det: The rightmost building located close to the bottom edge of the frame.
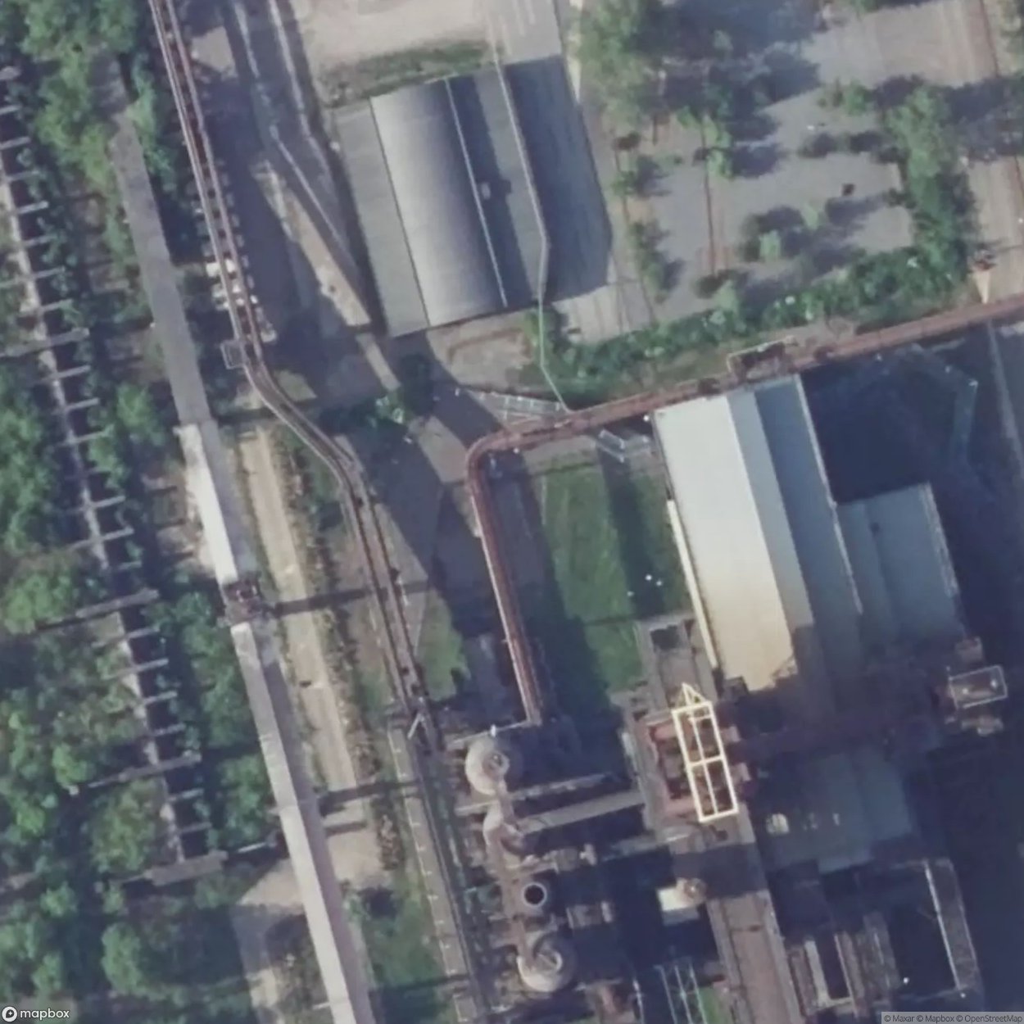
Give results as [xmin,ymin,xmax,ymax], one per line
[891,858,982,996]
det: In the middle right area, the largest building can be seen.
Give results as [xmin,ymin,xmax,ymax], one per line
[652,375,885,713]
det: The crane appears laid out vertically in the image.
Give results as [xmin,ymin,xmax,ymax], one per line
[672,684,739,821]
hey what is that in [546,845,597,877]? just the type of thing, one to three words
building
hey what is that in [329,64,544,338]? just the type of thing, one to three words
building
